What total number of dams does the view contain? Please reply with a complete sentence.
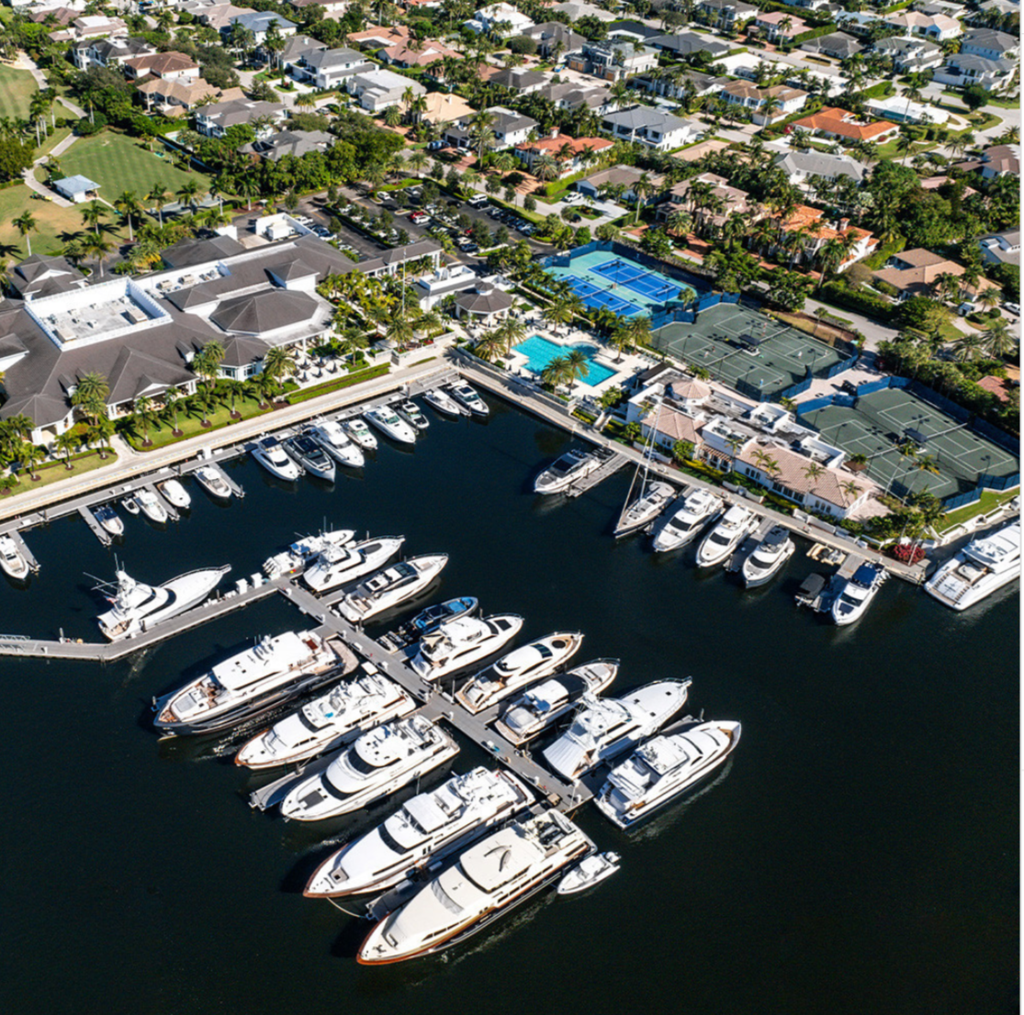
I count no dams.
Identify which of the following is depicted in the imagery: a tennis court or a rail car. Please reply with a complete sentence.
This aerial view contains a tennis court.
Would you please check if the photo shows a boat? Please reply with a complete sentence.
Yes, a boat is visible in the scene.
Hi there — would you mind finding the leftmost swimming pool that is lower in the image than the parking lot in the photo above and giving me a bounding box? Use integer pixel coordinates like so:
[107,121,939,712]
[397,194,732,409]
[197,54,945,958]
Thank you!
[516,335,616,385]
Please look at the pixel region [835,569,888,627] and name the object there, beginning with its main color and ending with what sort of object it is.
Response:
white boat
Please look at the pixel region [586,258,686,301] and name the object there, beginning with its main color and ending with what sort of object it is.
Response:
blue tennis court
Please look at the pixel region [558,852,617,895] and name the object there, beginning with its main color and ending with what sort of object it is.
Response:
white boat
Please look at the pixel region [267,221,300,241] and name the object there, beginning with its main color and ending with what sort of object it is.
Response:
white vehicle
